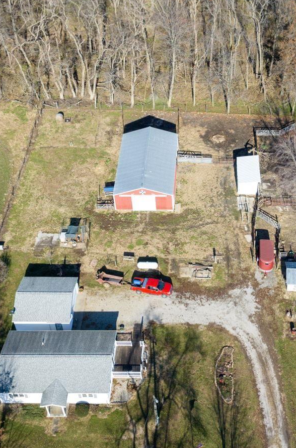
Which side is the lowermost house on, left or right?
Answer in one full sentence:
The lowermost house is on the left side of the image.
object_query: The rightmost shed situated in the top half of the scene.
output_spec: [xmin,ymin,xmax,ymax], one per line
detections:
[237,156,261,194]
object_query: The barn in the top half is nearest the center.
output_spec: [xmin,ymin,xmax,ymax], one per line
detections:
[113,126,179,211]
